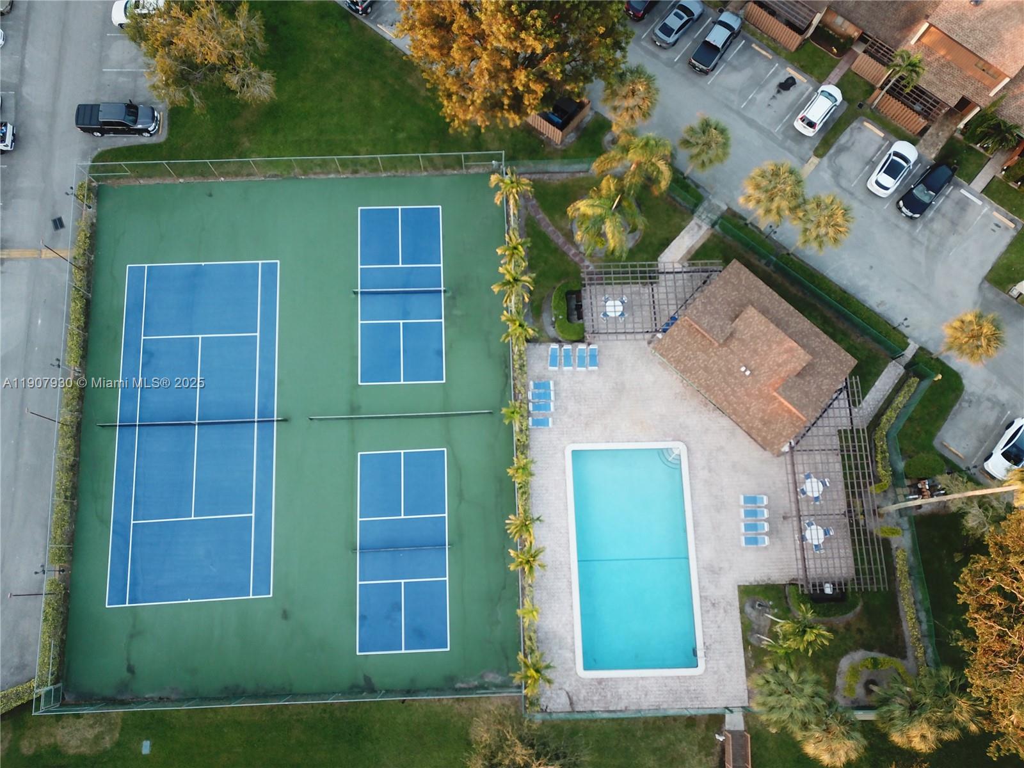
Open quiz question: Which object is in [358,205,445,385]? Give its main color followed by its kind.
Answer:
blue sports court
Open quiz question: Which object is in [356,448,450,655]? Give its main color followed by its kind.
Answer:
blue sports court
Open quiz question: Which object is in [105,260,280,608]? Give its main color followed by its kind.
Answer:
blue tennis court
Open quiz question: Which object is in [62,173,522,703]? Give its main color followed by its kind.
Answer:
green sports court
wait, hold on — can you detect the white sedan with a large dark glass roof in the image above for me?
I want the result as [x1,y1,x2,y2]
[868,142,918,200]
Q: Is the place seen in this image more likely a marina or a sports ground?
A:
sports ground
